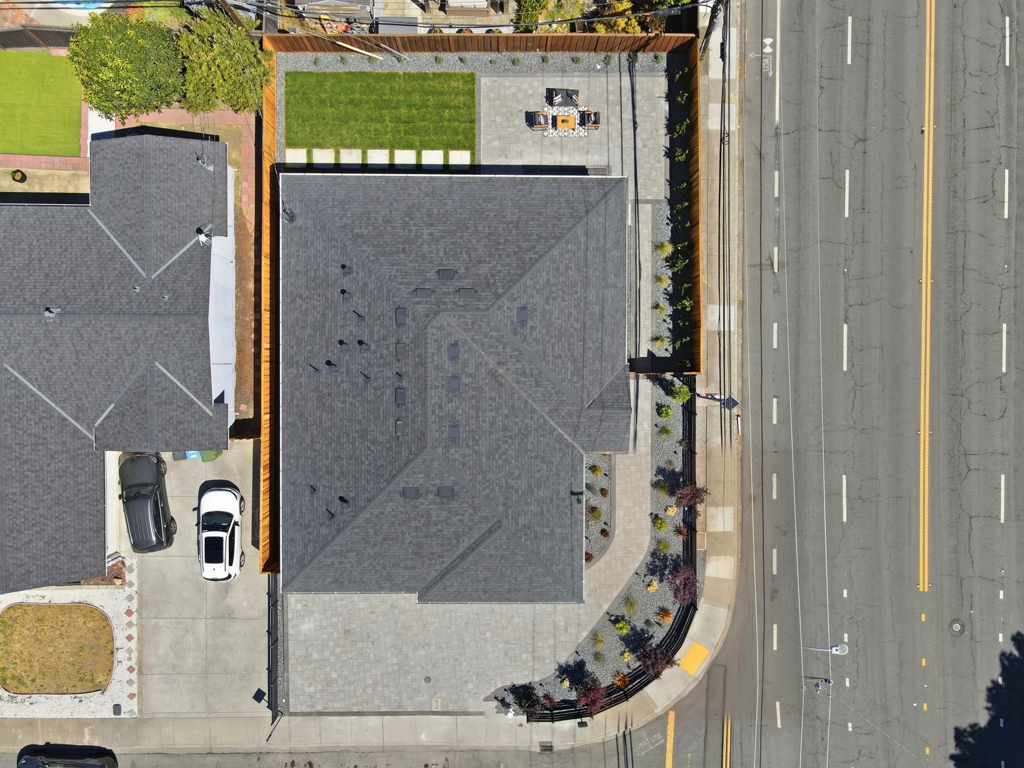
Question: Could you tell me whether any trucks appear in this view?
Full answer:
No, I find no truck anywhere in the image.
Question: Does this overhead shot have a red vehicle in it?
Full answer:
No, the scene contains no red vehicle.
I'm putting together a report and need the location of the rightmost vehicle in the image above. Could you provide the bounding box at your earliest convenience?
[192,485,246,585]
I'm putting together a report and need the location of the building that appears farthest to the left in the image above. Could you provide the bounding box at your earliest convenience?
[0,131,247,593]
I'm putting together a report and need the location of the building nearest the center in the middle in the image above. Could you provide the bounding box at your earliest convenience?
[278,172,633,605]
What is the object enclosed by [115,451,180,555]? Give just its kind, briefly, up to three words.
car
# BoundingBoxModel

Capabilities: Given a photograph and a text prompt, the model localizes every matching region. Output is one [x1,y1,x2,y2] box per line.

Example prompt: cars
[192,485,246,585]
[115,451,180,555]
[16,750,120,768]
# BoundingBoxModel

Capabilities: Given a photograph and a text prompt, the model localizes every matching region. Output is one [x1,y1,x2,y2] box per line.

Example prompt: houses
[278,172,633,605]
[0,131,247,593]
